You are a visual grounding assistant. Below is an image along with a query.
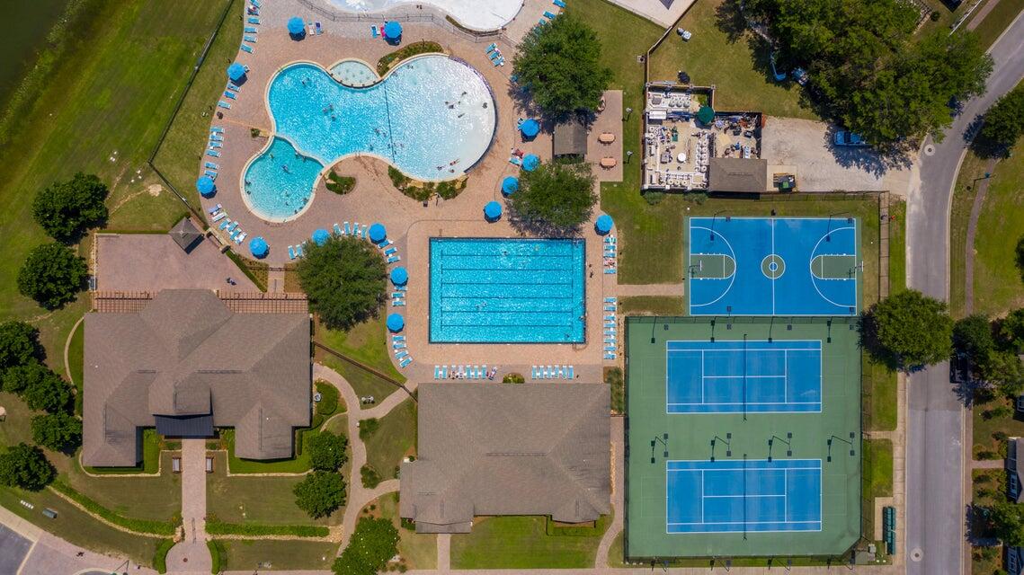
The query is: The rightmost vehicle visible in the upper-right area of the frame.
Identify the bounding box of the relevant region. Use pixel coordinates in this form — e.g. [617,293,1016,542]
[832,130,873,146]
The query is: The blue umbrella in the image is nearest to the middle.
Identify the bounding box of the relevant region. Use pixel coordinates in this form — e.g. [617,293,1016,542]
[485,202,502,219]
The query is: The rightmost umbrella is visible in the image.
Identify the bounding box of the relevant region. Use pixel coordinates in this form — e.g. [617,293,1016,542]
[697,106,714,124]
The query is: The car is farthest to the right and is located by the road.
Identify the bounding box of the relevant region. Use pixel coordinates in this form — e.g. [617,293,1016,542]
[948,348,968,383]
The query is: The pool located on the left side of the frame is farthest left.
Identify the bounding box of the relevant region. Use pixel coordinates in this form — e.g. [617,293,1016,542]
[240,136,324,223]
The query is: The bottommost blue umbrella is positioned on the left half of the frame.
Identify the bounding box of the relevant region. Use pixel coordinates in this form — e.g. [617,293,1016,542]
[387,314,404,331]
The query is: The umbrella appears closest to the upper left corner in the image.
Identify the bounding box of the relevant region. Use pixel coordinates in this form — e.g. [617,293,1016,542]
[228,63,245,80]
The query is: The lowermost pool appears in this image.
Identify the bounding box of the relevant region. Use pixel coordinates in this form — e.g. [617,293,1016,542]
[429,234,587,346]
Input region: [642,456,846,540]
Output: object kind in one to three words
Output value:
tennis court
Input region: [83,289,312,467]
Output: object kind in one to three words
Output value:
building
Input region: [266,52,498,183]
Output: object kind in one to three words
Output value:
swimming pool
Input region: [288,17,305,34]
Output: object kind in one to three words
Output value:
umbrella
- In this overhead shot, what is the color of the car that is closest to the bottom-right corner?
black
